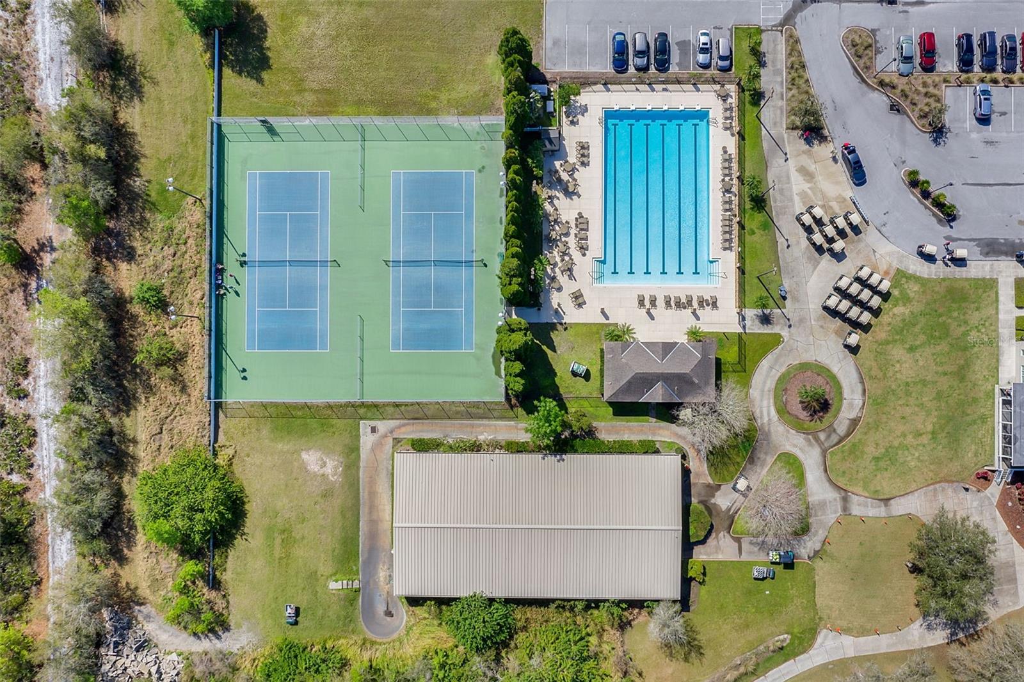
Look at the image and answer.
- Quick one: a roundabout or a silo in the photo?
roundabout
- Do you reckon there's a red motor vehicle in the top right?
Yes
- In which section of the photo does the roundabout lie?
right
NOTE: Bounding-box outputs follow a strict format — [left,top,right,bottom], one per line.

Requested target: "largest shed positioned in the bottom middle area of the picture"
[393,452,683,601]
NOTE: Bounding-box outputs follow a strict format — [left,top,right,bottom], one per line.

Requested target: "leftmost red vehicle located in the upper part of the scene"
[917,34,936,68]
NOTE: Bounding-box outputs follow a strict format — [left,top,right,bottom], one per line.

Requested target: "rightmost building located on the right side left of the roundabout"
[604,341,716,402]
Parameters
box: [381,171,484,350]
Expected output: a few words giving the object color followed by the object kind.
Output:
blue tennis court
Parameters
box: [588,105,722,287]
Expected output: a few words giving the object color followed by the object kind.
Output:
blue swimming pool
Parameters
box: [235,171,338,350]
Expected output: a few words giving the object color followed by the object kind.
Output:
blue tennis court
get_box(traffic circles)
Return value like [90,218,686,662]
[773,362,844,432]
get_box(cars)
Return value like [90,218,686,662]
[977,33,998,70]
[715,37,733,73]
[695,31,713,69]
[653,34,671,72]
[632,34,650,71]
[1018,33,1024,70]
[998,35,1018,73]
[895,38,913,75]
[972,83,993,120]
[840,144,864,183]
[612,34,629,72]
[917,34,936,68]
[954,34,974,72]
